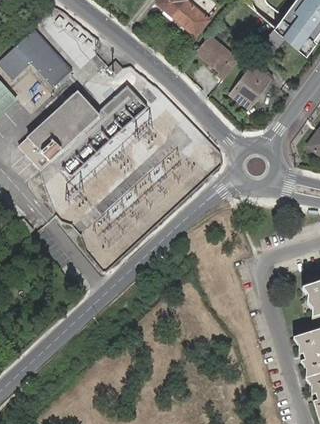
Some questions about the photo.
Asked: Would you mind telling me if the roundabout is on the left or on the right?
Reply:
right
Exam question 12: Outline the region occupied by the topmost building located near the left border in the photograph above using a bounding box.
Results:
[0,30,72,89]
